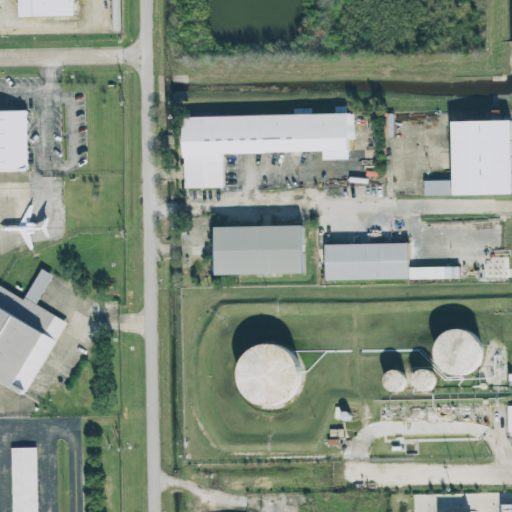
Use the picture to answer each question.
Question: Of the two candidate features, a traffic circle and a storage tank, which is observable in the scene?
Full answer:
Looking from above, you can make out a storage tank.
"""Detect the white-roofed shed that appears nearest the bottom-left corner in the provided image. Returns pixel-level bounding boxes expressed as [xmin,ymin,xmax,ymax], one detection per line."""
[12,447,40,512]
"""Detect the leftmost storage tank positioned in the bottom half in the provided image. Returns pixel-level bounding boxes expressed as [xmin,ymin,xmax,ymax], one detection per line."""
[235,344,301,406]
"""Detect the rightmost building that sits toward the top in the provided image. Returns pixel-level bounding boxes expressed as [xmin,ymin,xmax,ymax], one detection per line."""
[450,120,512,196]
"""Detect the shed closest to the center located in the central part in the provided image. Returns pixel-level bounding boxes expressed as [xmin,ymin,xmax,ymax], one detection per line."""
[212,225,306,276]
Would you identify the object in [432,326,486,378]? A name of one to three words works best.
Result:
storage tank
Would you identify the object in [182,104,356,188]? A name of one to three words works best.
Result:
building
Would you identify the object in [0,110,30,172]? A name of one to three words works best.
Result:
hangar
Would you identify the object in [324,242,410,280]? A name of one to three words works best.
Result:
shed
